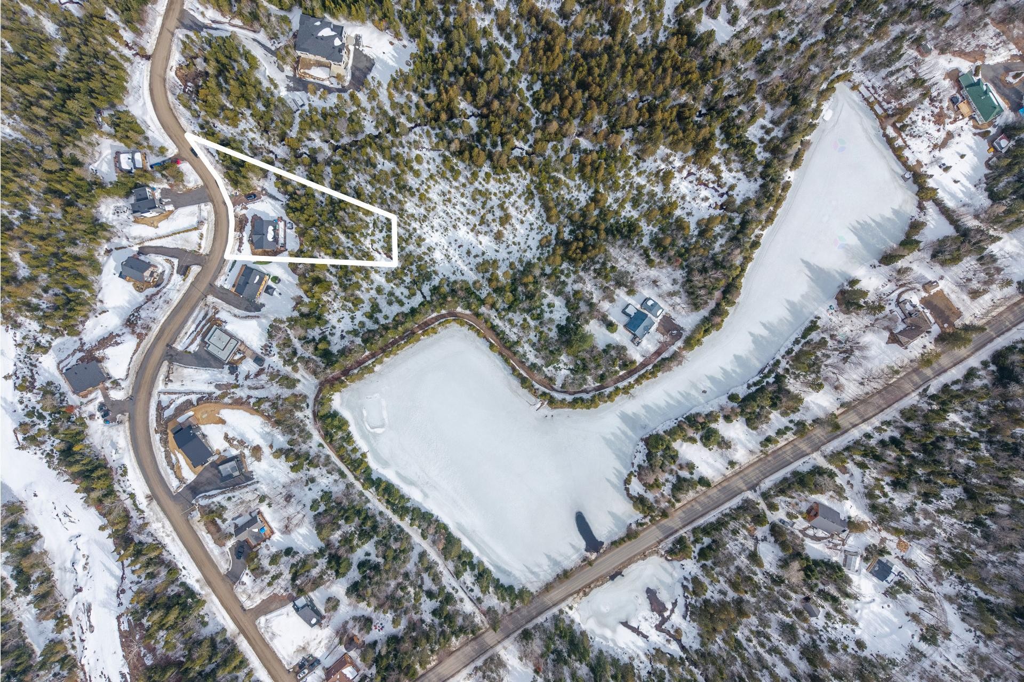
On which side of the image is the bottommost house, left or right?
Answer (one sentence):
The bottommost house appears in the left half of the scene.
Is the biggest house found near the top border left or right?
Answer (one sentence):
It is on the left.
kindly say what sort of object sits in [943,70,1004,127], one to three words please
house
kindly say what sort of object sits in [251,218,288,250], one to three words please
house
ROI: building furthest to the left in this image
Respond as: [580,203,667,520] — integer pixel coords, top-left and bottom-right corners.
[65,362,110,395]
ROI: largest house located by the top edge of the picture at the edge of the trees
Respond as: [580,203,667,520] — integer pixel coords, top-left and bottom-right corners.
[294,15,357,86]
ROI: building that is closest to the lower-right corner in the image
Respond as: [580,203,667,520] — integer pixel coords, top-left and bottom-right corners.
[862,555,894,584]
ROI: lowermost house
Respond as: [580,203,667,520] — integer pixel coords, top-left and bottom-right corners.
[320,651,367,682]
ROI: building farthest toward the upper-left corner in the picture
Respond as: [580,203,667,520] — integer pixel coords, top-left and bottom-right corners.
[114,151,151,174]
